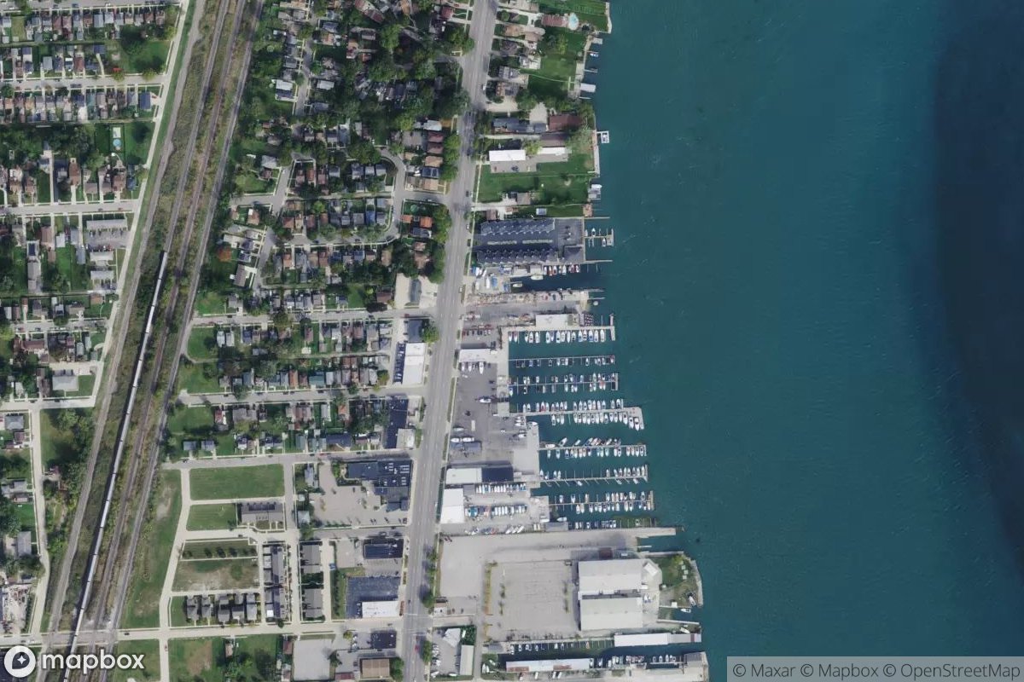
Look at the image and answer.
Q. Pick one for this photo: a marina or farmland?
marina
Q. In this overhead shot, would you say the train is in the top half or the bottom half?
bottom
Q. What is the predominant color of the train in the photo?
white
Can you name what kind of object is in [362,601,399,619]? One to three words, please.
building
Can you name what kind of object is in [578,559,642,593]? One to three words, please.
building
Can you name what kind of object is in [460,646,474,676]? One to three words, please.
shed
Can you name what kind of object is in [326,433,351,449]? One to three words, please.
house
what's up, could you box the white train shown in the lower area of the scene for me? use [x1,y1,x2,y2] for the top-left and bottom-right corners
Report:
[64,253,167,682]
